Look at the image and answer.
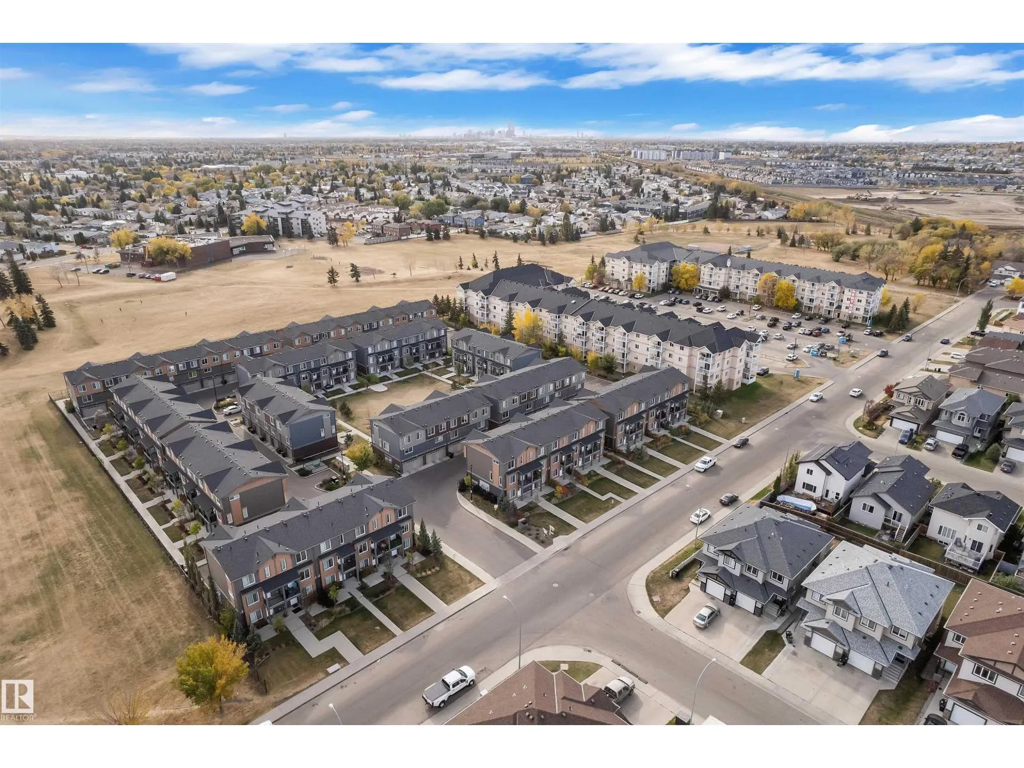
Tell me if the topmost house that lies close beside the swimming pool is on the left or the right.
right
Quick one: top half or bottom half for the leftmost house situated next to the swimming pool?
bottom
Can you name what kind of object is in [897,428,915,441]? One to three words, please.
vehicle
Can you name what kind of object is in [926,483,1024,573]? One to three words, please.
house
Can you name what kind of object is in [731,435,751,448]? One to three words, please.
vehicle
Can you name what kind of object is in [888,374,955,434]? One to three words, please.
house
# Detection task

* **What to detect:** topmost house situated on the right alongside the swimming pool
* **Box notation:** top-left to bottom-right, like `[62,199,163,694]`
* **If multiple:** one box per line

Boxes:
[794,440,878,501]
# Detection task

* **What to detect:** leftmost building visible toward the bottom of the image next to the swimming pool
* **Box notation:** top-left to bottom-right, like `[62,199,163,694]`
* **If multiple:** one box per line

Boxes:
[686,504,834,624]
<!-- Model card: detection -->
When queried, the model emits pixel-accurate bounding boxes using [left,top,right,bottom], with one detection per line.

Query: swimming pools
[778,491,820,510]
